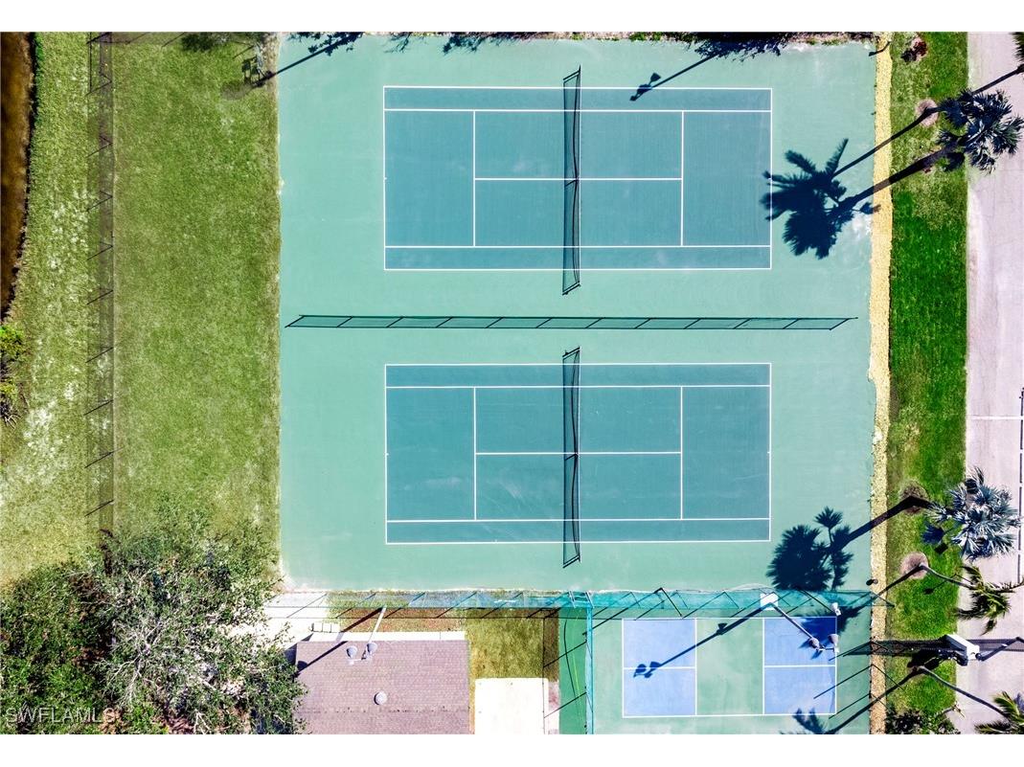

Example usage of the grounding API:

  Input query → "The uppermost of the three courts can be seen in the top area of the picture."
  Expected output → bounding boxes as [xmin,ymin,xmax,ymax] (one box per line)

[383,86,772,270]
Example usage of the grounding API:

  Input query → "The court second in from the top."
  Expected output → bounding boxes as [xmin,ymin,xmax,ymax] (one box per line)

[385,363,771,544]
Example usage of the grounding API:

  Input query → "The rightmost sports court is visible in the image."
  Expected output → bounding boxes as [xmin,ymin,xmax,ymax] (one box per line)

[622,617,837,718]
